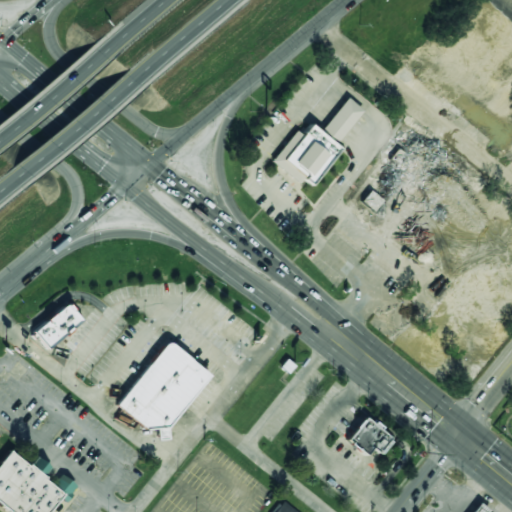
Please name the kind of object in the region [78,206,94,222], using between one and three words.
vehicle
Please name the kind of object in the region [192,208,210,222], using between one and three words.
vehicle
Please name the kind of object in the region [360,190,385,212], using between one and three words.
building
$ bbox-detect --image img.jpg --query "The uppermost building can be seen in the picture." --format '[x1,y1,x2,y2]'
[322,99,366,141]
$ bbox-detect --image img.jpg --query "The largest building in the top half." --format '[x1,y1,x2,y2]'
[282,125,344,186]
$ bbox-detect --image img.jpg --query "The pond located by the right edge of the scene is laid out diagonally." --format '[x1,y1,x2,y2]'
[454,92,512,162]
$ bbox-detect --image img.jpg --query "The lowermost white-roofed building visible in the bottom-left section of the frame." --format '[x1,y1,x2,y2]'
[0,450,64,512]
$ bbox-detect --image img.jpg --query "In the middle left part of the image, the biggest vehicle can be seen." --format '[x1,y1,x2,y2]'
[50,234,77,254]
